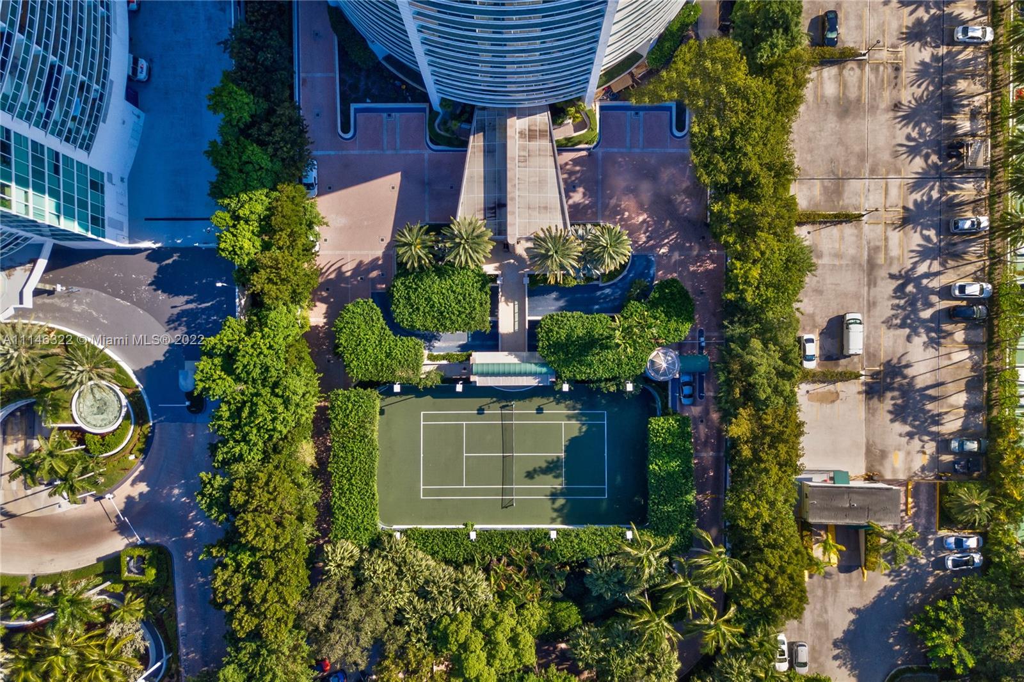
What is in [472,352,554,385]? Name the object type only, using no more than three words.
building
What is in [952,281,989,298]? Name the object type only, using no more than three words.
car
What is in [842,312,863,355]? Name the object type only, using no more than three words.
vehicle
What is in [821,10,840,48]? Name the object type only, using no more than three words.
car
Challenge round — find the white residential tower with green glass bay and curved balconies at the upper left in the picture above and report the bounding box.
[0,0,143,246]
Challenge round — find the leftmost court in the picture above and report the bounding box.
[381,383,658,524]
